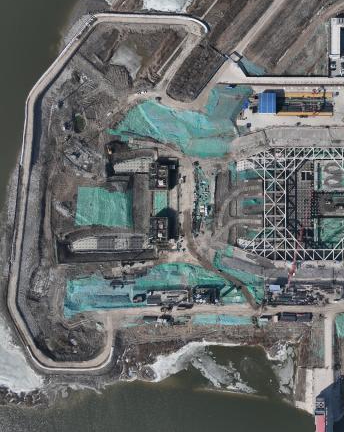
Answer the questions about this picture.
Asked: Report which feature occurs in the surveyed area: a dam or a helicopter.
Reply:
dam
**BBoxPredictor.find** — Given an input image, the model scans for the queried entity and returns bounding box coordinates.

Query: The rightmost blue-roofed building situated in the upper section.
[258,93,277,116]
